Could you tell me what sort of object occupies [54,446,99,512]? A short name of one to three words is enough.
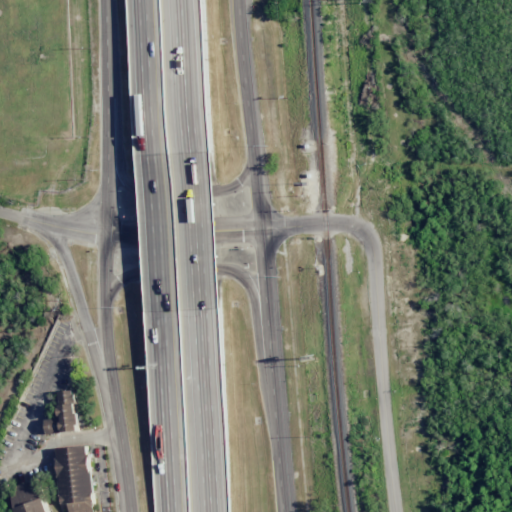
building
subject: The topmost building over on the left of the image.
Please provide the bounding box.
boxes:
[43,391,84,434]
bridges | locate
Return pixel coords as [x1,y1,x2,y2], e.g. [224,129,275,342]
[125,0,232,512]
